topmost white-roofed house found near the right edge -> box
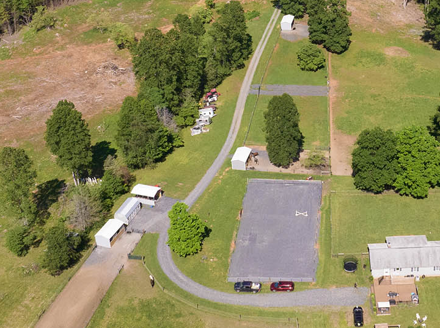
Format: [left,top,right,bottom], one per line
[370,231,440,278]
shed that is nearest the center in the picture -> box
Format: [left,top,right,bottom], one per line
[231,146,251,170]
